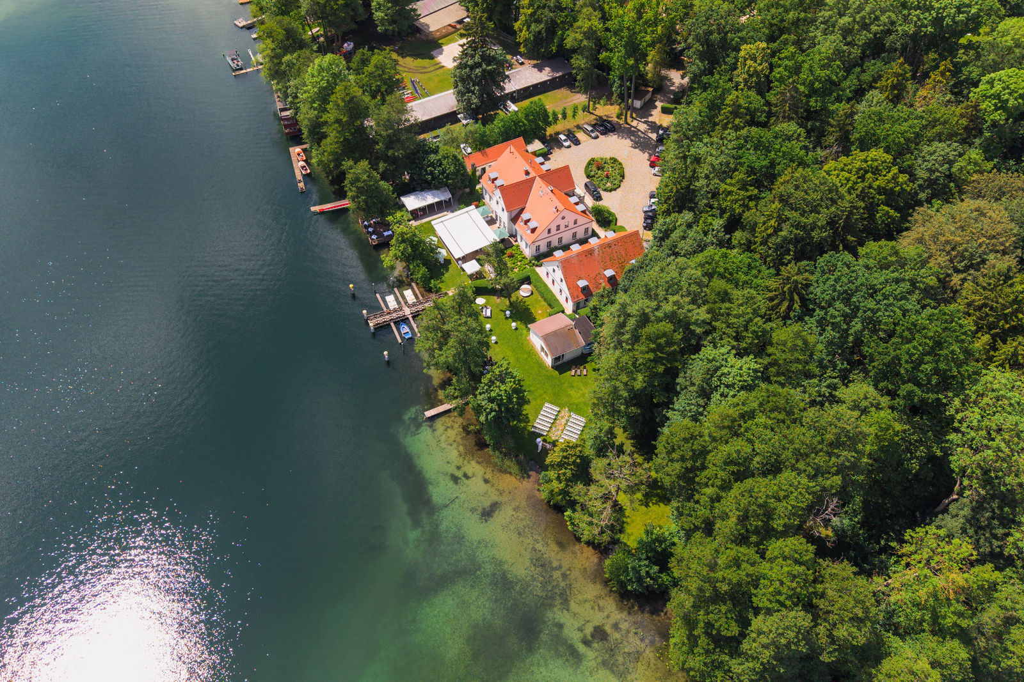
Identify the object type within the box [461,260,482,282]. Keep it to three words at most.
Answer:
gazebo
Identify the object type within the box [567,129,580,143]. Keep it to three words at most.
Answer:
vehicle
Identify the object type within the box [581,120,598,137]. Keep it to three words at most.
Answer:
car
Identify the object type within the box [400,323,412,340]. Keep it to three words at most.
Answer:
boat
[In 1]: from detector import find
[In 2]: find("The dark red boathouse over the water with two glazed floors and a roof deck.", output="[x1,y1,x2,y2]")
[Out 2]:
[275,101,305,137]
